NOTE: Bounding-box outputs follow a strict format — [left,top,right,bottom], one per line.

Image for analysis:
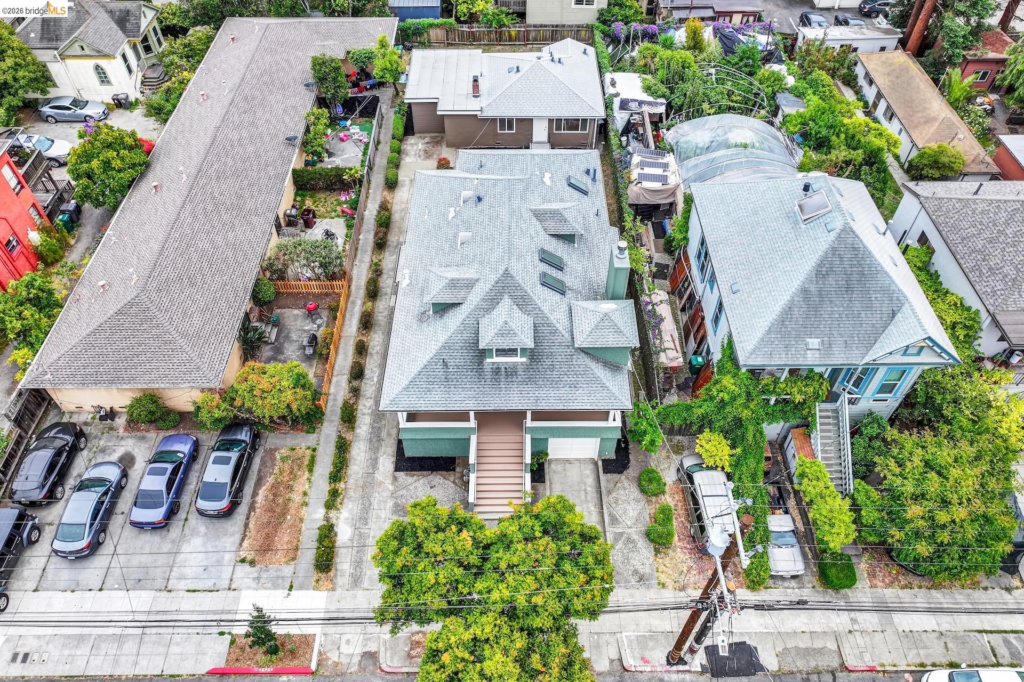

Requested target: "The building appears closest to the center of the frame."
[377,152,642,519]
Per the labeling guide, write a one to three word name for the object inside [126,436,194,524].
car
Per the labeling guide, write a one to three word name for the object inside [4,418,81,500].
car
